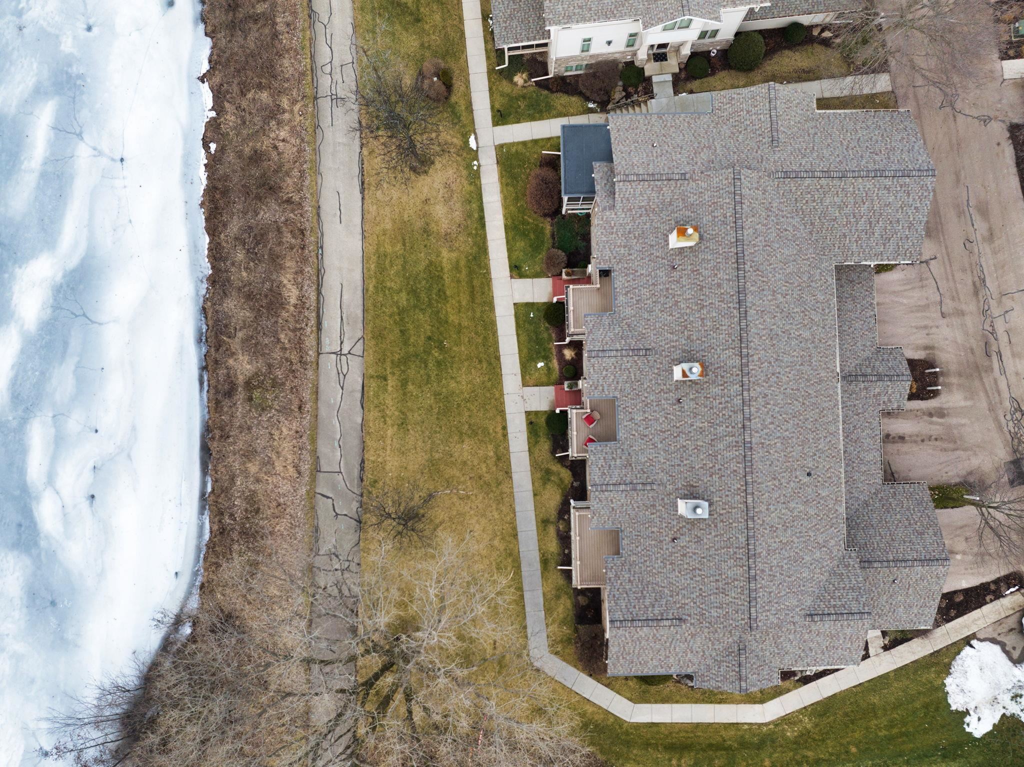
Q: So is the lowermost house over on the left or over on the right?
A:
right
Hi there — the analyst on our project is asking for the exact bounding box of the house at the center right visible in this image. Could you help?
[543,84,951,695]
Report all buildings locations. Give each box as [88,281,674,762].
[543,84,951,695]
[491,0,864,81]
